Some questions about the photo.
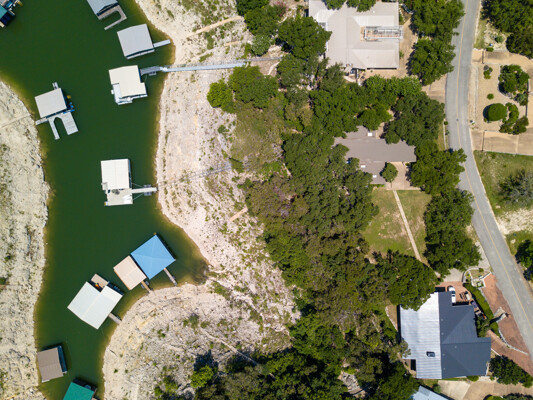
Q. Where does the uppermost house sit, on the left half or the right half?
right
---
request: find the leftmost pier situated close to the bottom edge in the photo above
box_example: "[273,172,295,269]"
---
[37,344,68,384]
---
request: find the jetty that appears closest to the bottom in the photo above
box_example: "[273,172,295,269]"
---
[65,377,100,400]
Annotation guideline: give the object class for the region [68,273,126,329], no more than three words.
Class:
pier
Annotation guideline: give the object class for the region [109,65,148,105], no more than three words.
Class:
pier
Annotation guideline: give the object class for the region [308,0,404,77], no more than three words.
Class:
house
